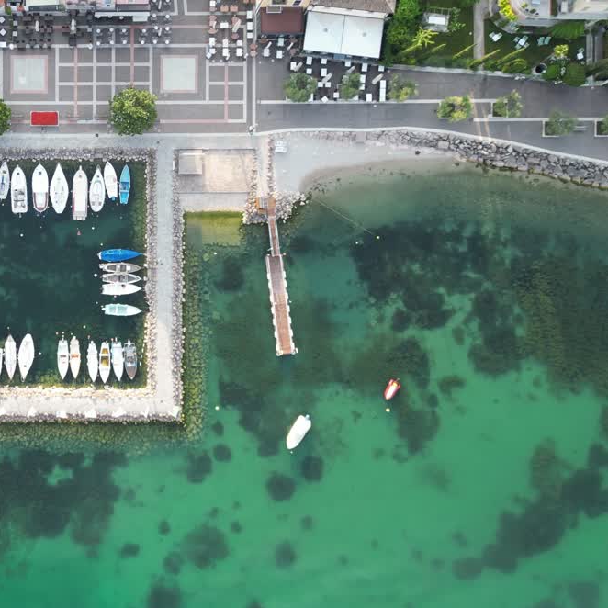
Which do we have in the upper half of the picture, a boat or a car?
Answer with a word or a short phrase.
boat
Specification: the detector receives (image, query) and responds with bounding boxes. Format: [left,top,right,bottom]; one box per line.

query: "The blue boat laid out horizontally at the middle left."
[96,249,149,262]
